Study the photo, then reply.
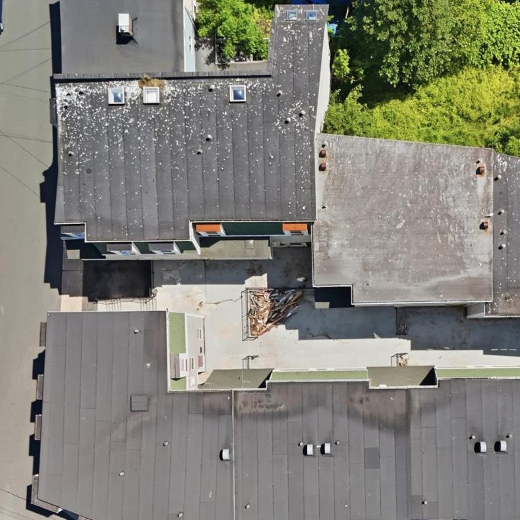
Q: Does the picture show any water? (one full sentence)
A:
No, no water is visible.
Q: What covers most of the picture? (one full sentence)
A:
The bulk of the photo consists of buildings.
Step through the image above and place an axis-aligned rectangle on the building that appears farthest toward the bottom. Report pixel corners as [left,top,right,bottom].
[31,311,520,520]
